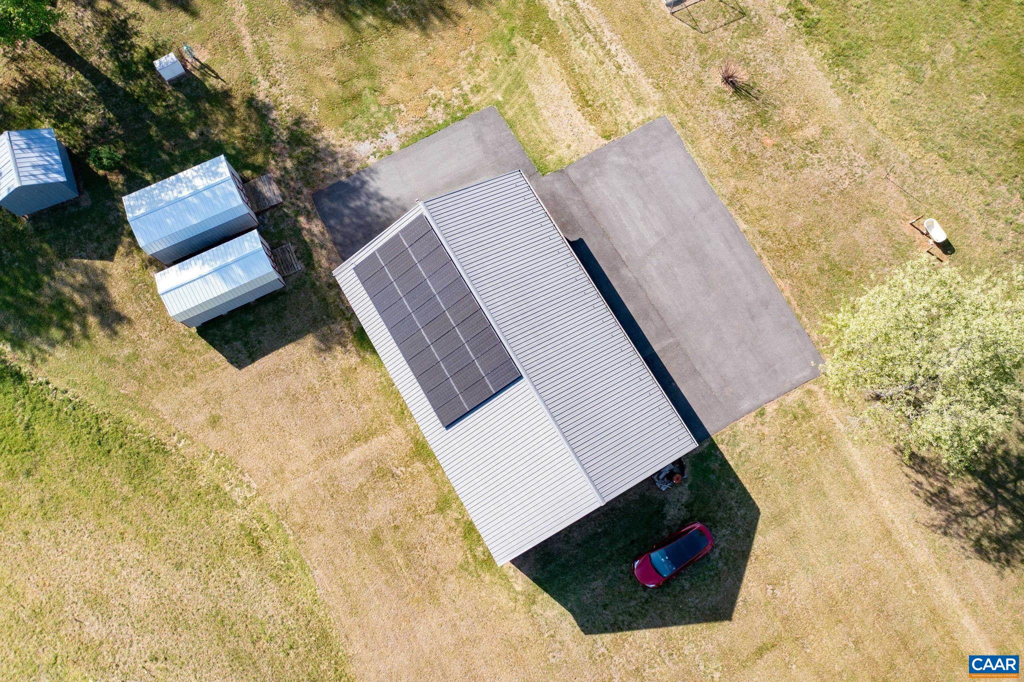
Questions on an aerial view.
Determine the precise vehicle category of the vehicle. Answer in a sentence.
Looking closely, the vehicle is an automobile.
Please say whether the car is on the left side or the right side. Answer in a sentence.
The car appears in the right half of the scene.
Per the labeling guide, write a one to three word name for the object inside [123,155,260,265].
shed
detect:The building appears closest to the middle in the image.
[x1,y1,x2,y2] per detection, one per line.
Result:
[332,169,699,567]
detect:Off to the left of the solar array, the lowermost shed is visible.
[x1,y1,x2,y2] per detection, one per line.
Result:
[155,230,285,327]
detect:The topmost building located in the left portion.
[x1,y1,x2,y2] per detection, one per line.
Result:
[154,52,189,89]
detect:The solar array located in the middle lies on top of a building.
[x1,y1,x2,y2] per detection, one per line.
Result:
[353,215,521,427]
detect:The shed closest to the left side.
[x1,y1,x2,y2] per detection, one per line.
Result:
[0,128,80,215]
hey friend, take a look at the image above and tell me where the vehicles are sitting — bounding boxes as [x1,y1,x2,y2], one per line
[631,522,718,588]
